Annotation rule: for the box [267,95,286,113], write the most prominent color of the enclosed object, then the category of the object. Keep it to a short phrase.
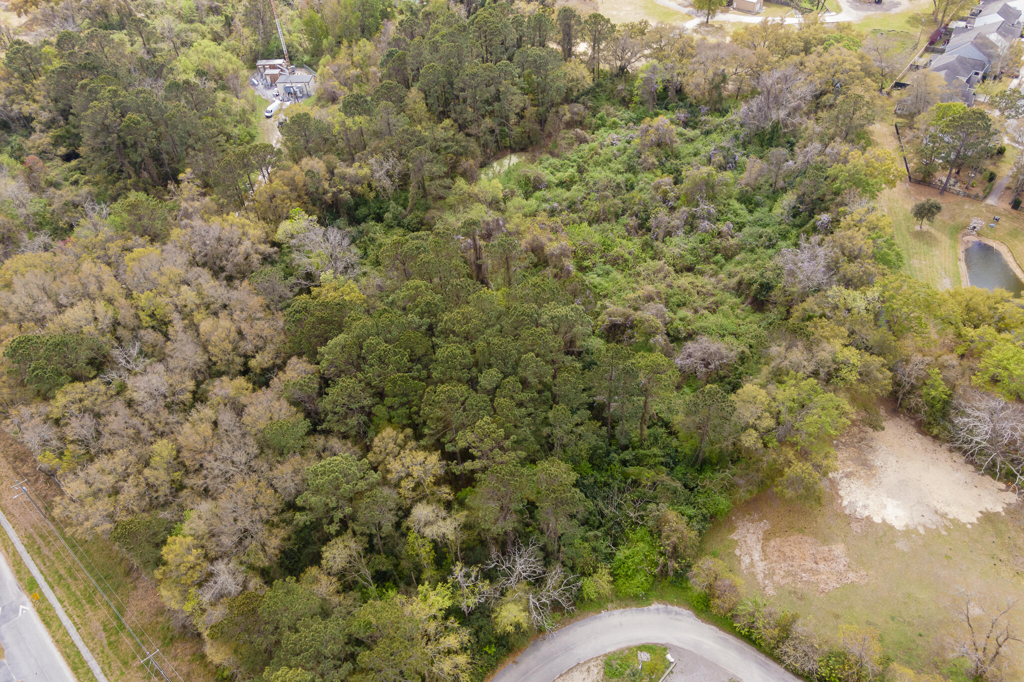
white vehicle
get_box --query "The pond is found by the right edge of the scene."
[965,242,1024,328]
